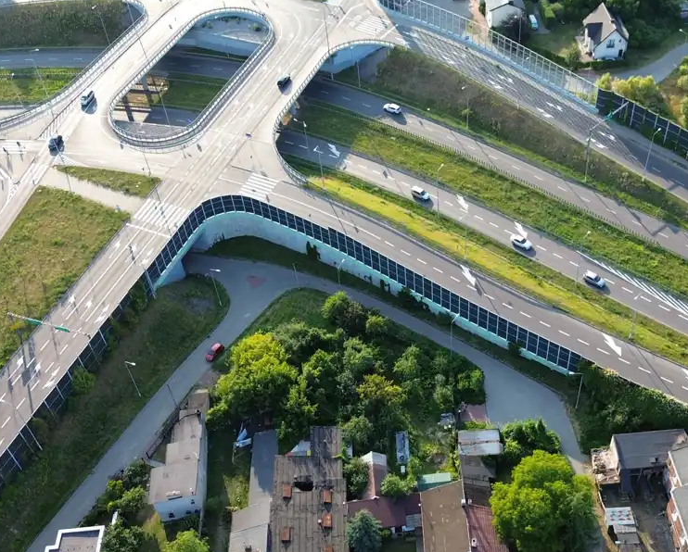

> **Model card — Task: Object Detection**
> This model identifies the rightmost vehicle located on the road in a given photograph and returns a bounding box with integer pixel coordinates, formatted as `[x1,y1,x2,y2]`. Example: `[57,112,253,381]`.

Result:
[583,268,607,287]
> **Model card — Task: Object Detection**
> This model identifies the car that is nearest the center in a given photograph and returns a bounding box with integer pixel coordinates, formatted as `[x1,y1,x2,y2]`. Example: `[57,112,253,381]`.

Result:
[410,184,430,199]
